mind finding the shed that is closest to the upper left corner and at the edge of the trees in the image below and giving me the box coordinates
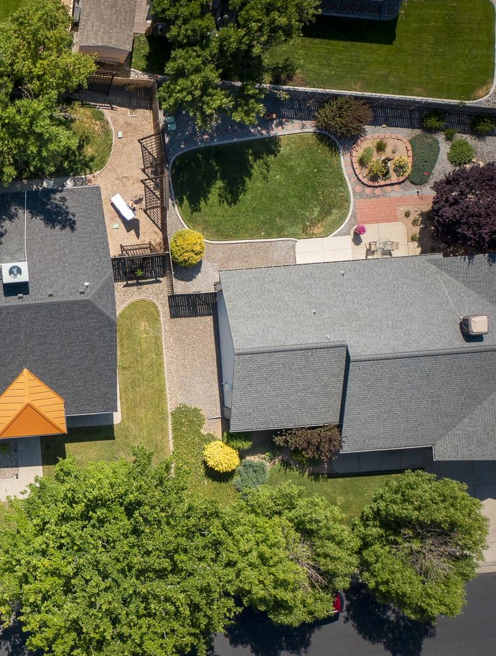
[79,0,138,67]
